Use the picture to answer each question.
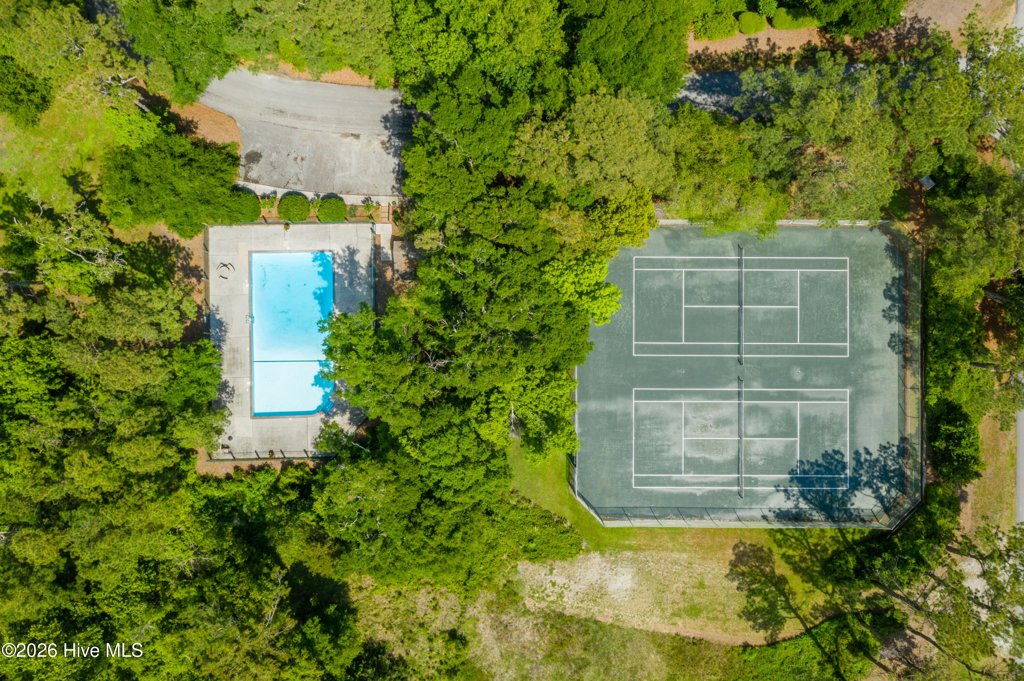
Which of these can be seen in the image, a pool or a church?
pool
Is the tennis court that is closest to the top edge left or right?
right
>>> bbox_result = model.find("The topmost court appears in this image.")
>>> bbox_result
[575,225,906,374]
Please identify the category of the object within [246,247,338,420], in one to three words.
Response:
swimming pool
